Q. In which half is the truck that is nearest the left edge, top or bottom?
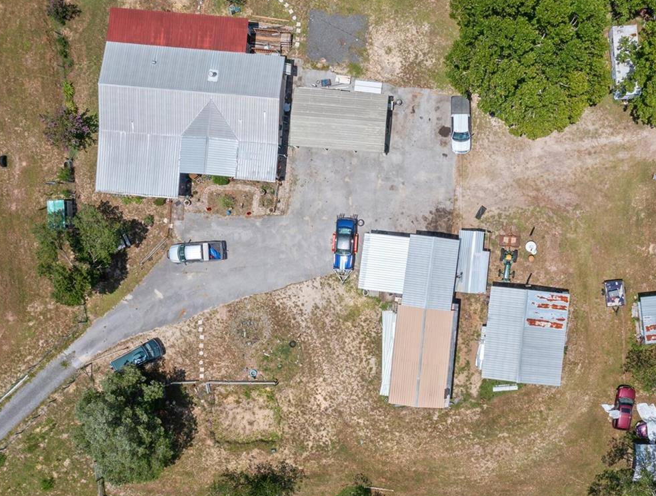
bottom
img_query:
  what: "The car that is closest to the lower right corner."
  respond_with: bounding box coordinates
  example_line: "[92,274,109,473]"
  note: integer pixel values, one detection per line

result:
[631,420,650,440]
